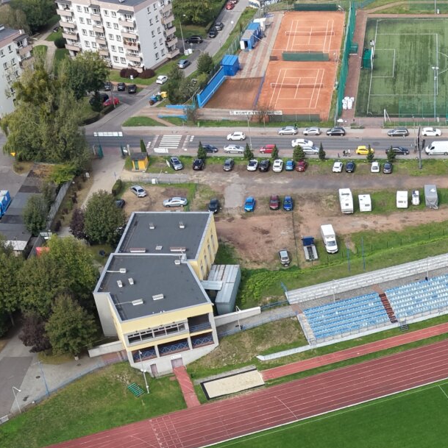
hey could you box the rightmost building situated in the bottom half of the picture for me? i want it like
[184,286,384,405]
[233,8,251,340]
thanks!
[94,212,261,360]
